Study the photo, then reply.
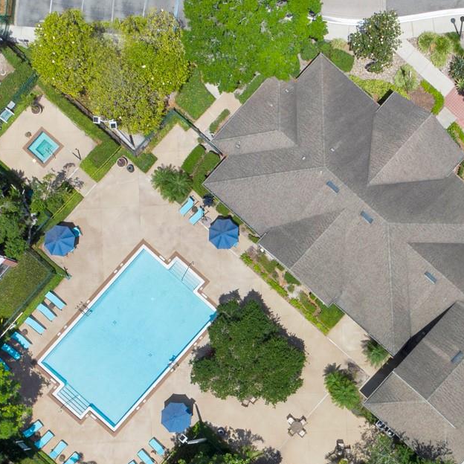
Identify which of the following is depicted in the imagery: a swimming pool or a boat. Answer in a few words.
swimming pool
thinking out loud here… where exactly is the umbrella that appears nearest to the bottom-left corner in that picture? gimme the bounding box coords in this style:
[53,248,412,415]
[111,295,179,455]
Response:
[161,401,193,433]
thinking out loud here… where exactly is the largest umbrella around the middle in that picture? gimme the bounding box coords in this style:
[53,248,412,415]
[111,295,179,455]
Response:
[209,218,240,249]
